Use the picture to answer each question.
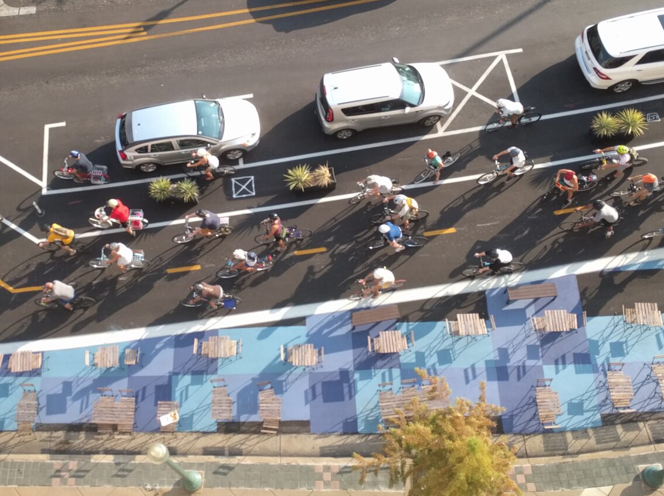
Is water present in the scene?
No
